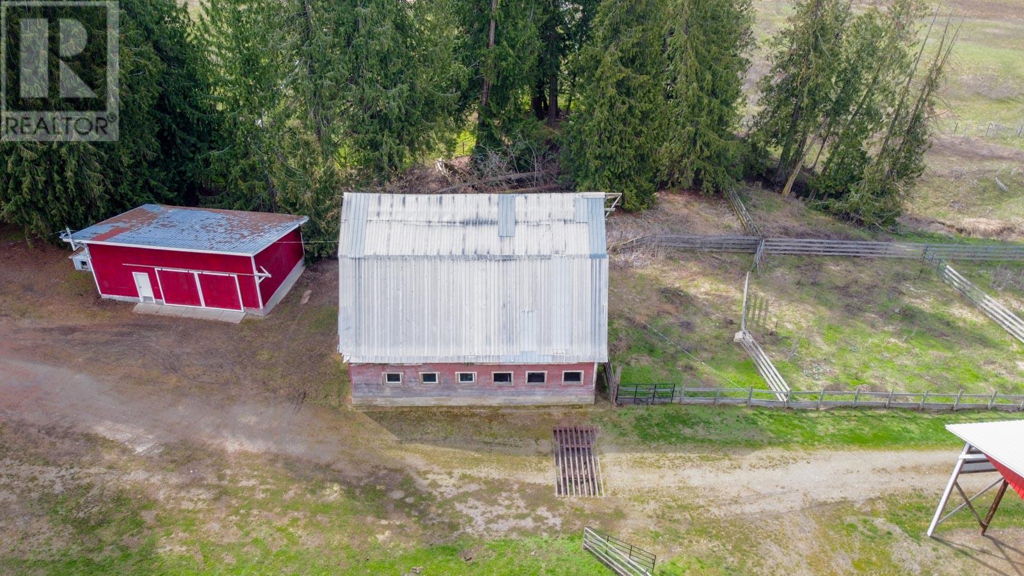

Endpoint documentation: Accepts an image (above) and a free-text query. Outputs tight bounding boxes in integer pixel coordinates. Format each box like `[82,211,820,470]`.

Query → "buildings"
[337,192,623,406]
[62,207,311,316]
[927,423,1024,538]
